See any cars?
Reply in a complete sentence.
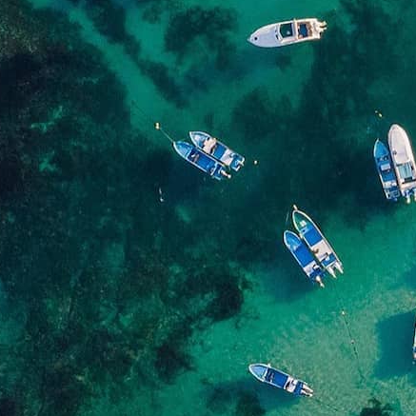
No, the picture doesn't show any car.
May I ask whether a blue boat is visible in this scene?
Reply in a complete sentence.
Yes, there is a blue boat in the image.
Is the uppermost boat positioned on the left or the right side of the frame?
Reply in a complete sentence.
The uppermost boat is on the right side of the image.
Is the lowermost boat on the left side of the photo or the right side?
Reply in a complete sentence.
You can find the lowermost boat on the right side of the picture.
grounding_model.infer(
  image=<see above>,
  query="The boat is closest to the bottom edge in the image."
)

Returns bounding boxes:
[249,364,316,396]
